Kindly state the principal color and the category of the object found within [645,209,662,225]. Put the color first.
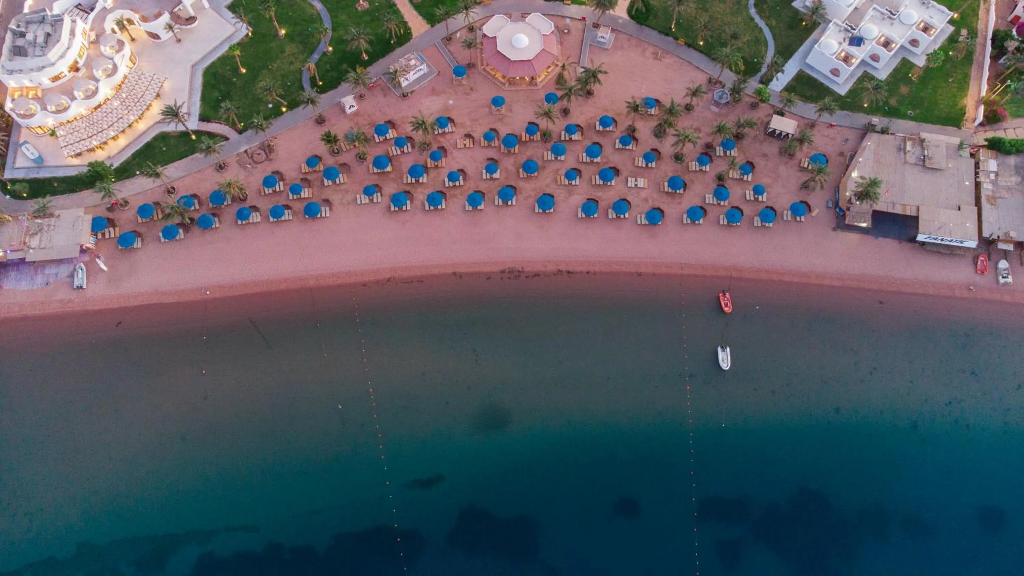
blue umbrella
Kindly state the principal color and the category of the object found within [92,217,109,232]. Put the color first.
blue umbrella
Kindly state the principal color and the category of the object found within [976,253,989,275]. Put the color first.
red boat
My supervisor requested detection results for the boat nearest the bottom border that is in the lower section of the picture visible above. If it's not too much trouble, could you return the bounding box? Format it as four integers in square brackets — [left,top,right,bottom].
[716,343,731,371]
